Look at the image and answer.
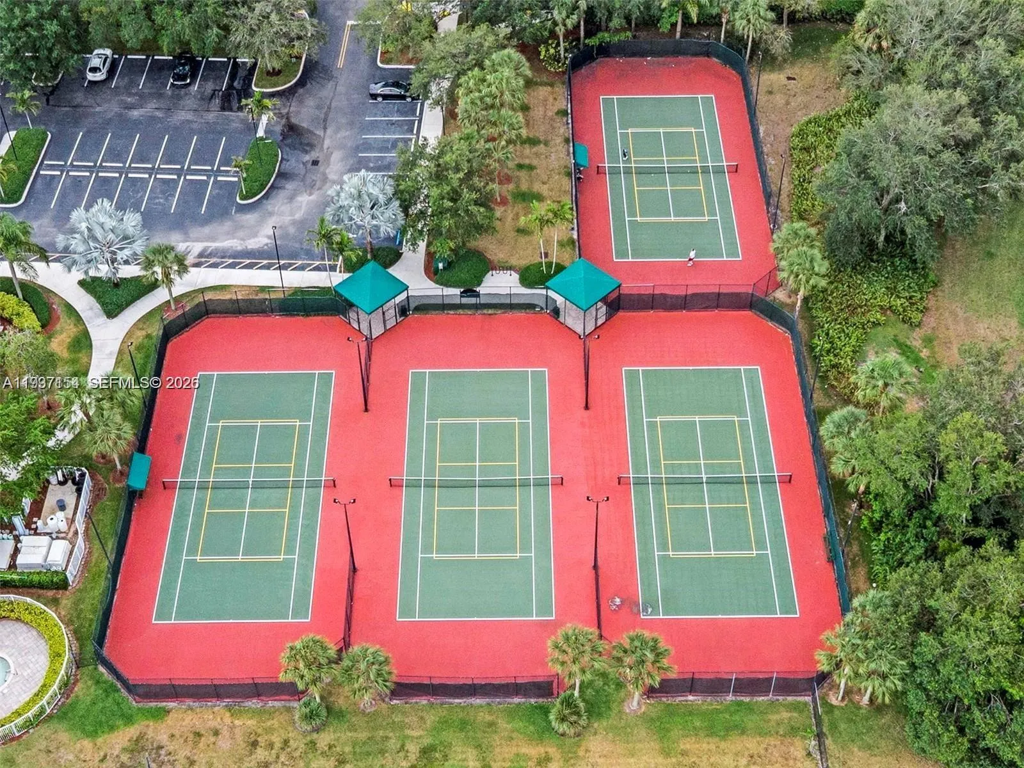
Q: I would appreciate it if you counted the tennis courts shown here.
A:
four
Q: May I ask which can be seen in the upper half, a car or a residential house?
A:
car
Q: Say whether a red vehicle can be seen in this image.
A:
No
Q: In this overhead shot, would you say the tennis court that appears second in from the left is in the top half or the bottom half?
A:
bottom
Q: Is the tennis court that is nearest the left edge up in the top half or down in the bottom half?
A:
bottom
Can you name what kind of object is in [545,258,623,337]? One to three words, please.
gazebo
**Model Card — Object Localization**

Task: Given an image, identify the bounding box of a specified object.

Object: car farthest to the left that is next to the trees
[87,48,115,78]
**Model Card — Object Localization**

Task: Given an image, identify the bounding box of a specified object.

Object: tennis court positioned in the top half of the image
[569,57,780,313]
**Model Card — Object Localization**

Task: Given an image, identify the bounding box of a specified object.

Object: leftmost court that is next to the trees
[102,316,370,701]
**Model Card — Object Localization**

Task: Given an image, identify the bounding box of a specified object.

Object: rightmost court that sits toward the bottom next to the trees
[584,312,844,696]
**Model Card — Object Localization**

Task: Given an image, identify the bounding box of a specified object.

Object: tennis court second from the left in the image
[351,314,599,699]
